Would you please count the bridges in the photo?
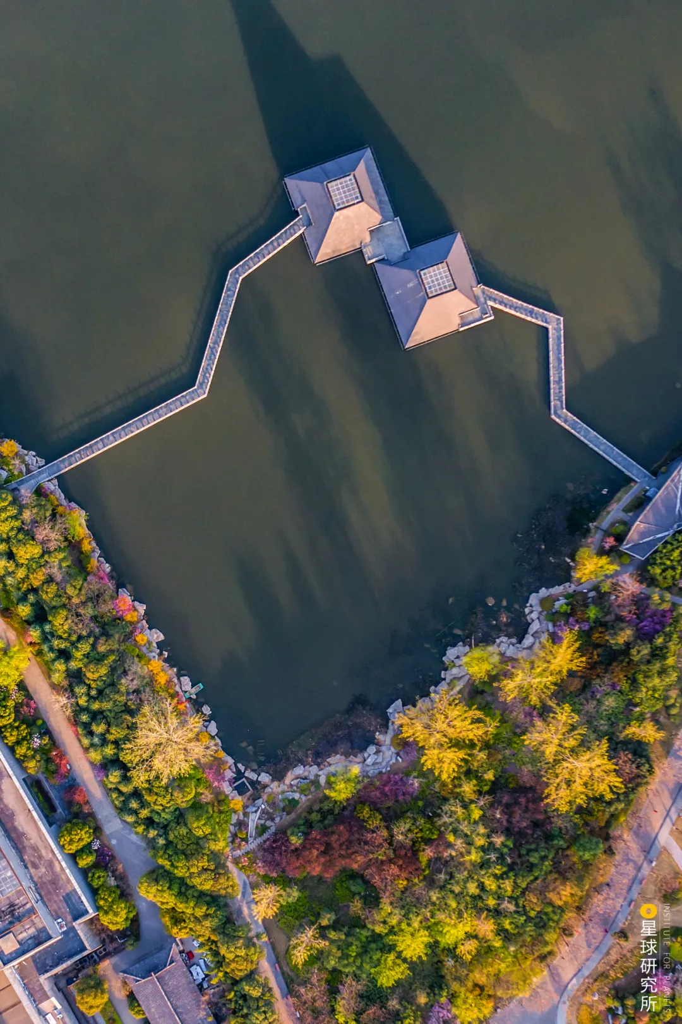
2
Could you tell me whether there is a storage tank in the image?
No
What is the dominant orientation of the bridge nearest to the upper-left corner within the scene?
at an angle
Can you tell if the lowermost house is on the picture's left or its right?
left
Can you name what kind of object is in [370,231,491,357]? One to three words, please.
building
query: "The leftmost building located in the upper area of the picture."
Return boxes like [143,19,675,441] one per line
[280,147,396,273]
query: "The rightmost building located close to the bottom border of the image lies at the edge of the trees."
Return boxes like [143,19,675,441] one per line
[118,942,219,1024]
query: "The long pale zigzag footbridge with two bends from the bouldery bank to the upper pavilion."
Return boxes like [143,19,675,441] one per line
[41,215,303,479]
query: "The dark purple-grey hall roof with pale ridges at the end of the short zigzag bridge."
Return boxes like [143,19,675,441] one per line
[619,458,682,560]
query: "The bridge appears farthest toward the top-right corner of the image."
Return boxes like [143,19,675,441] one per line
[481,285,653,483]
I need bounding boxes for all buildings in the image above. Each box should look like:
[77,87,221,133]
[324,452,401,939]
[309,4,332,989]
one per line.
[0,736,102,1024]
[370,231,491,357]
[118,942,219,1024]
[619,458,682,560]
[280,147,396,273]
